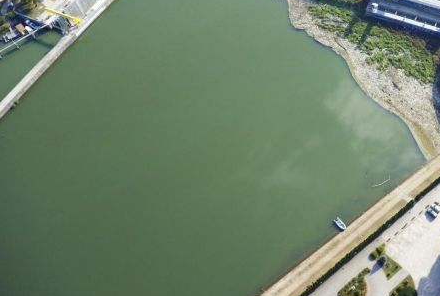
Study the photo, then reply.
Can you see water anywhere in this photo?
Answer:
Yes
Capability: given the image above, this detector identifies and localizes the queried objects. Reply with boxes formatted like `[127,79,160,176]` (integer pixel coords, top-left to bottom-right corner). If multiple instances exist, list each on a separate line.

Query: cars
[431,203,440,212]
[426,207,437,217]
